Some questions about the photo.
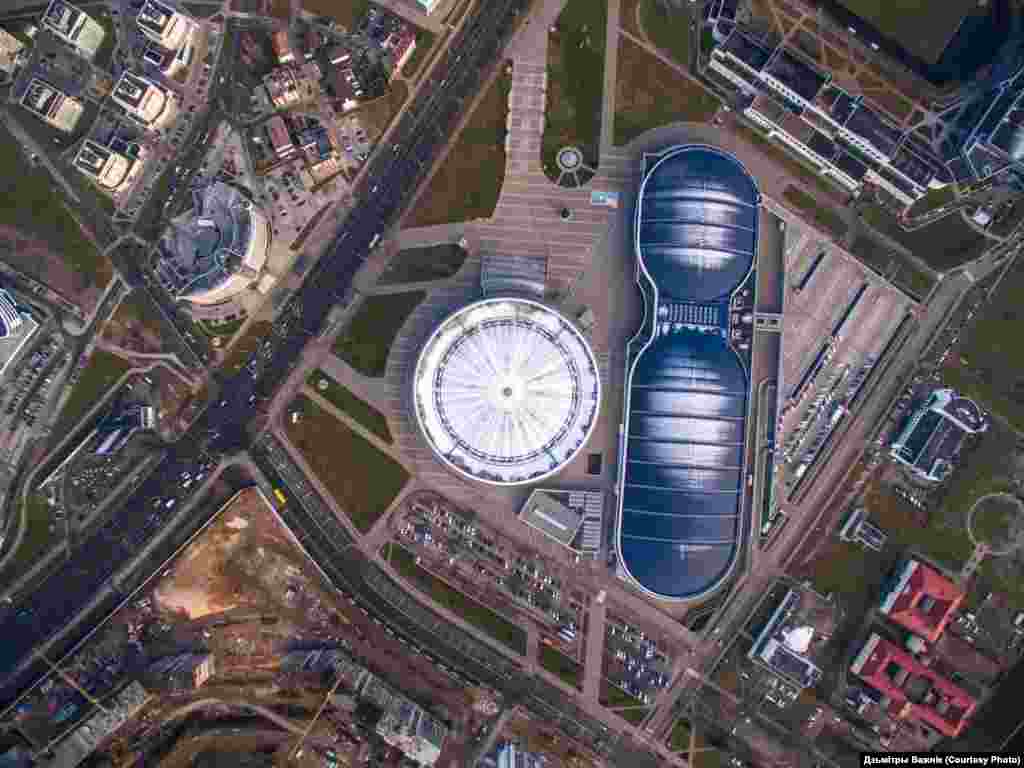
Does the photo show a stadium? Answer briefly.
Yes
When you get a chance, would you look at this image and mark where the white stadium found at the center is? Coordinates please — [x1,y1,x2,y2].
[413,297,602,486]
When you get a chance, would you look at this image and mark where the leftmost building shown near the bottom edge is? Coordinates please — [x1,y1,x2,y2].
[38,671,154,768]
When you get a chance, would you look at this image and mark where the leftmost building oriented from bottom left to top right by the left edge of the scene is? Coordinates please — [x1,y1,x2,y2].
[0,318,45,380]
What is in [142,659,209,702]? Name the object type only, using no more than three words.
building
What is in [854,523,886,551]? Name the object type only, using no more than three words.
house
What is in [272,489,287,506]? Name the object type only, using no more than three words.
vehicle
